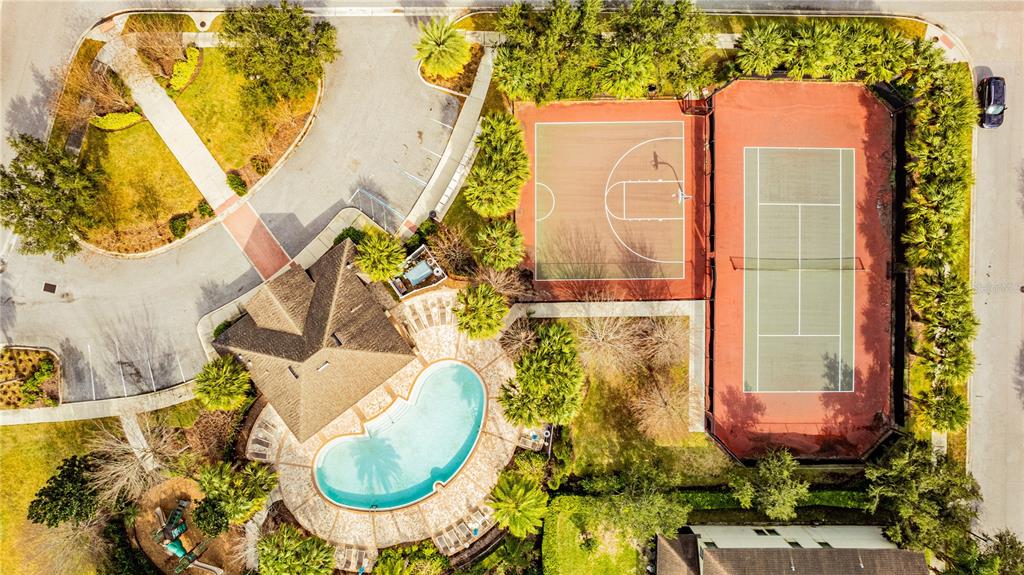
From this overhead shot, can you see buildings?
Yes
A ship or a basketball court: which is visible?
basketball court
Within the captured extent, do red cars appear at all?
No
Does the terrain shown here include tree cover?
Yes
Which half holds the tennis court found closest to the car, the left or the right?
right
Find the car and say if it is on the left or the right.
right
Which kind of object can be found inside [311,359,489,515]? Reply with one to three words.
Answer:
swimming pool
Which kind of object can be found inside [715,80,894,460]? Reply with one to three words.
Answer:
tennis court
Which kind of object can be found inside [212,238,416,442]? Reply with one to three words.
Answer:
building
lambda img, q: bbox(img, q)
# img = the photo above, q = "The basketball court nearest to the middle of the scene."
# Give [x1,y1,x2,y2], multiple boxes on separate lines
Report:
[516,97,709,300]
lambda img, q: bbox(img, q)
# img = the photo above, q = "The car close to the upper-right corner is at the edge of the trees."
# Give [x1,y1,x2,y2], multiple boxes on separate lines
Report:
[977,78,1005,128]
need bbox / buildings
[212,238,416,442]
[651,524,937,575]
